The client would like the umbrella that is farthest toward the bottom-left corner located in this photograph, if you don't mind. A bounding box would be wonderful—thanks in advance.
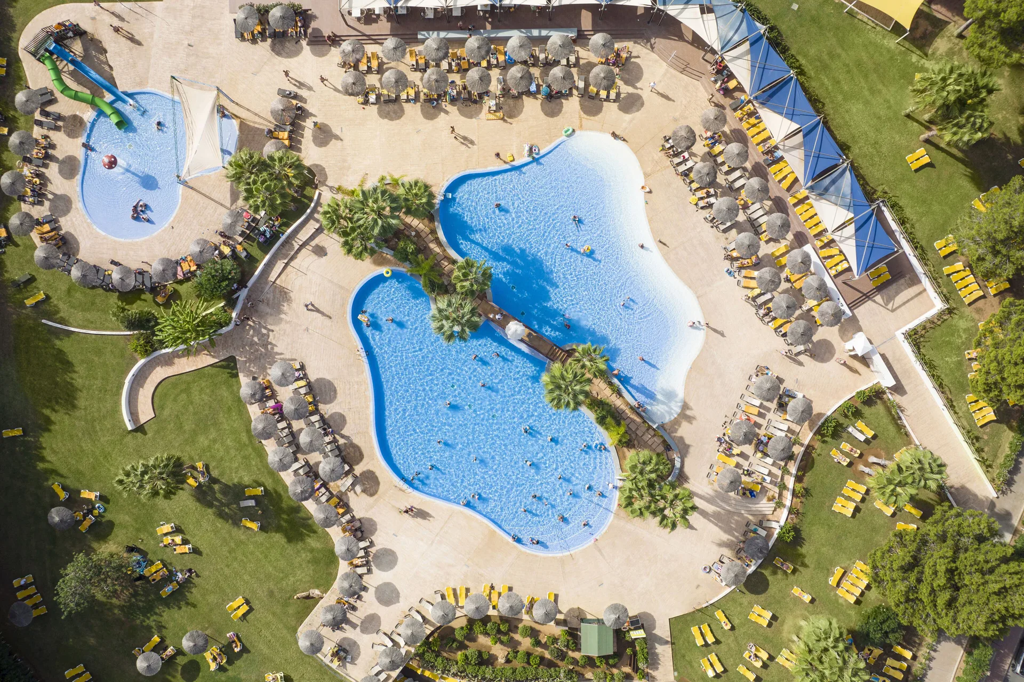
[9,599,38,626]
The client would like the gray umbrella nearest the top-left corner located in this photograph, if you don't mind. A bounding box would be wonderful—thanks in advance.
[17,89,46,116]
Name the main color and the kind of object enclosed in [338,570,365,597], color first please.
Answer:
gray umbrella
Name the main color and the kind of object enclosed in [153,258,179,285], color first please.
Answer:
gray umbrella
